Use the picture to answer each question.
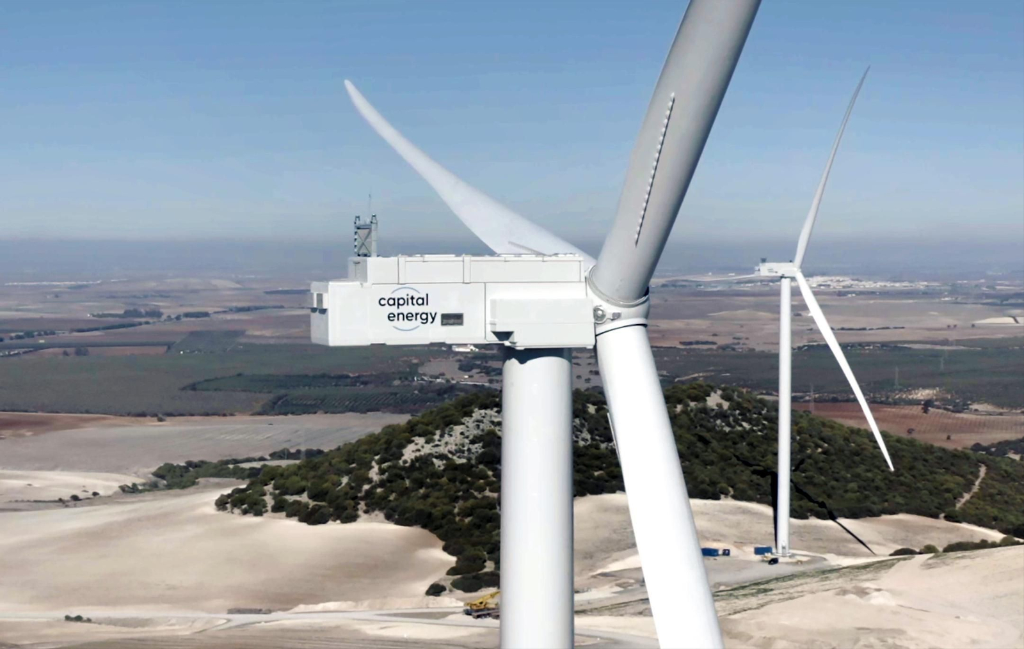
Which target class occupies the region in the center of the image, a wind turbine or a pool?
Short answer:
wind turbine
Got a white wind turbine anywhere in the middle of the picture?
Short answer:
Yes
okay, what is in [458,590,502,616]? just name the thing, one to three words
crane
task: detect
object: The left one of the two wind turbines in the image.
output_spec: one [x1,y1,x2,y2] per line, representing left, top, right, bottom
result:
[304,0,760,649]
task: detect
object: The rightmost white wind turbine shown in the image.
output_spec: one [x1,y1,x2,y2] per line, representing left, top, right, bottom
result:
[684,64,893,556]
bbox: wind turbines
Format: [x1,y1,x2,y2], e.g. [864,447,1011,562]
[304,0,760,649]
[684,64,893,556]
